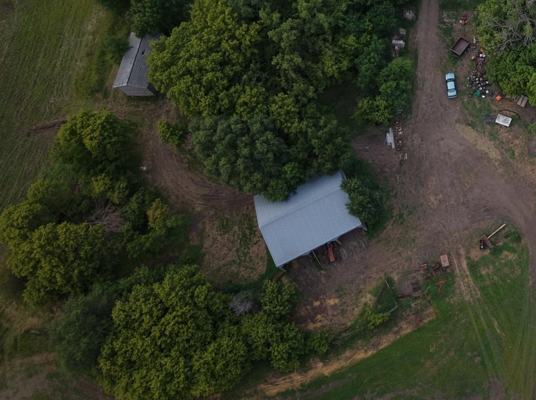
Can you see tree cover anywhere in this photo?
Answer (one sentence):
Yes, tree cover can be seen from above here.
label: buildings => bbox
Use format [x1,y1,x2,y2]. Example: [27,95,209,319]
[254,158,368,270]
[115,27,168,95]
